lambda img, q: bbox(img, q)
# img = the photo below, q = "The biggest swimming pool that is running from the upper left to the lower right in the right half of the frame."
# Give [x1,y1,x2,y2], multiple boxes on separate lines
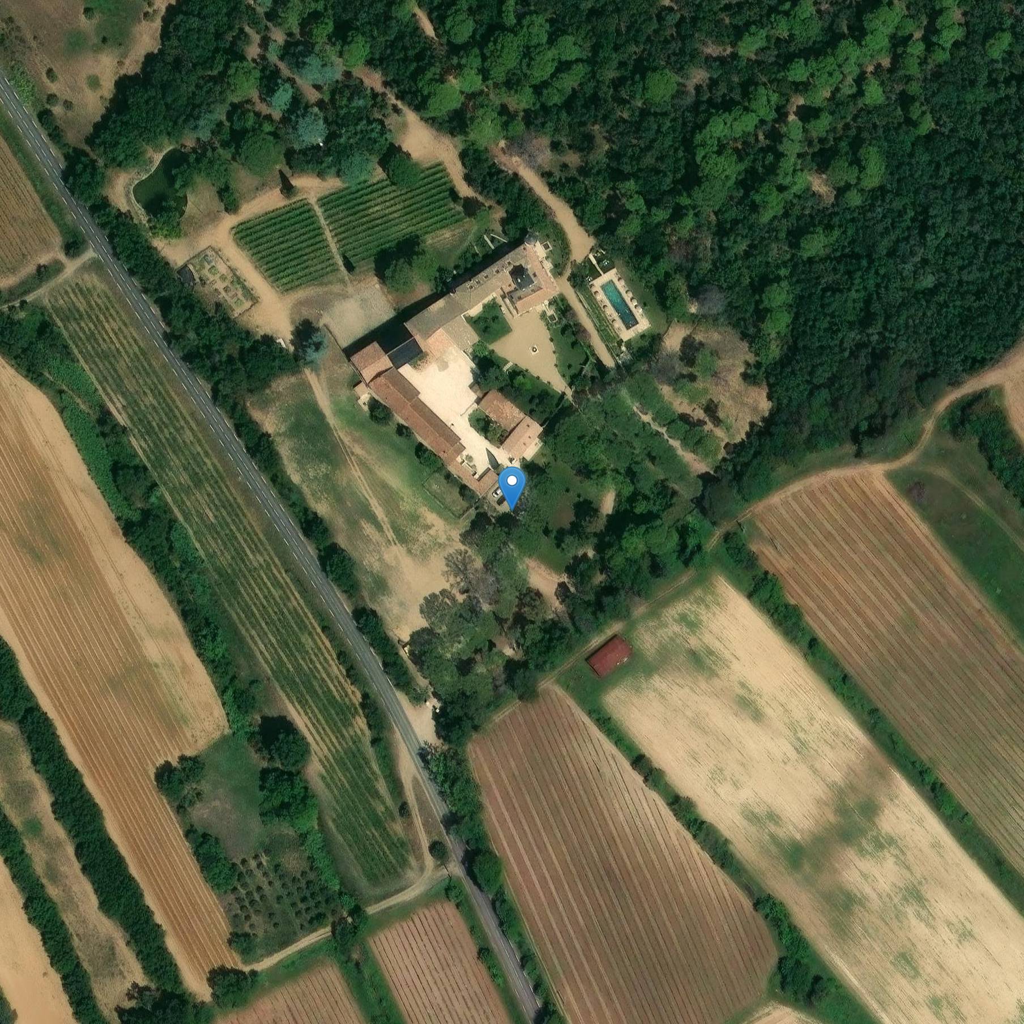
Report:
[589,269,651,339]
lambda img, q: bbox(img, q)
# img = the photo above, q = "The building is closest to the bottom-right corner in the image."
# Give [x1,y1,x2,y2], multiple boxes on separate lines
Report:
[589,636,632,677]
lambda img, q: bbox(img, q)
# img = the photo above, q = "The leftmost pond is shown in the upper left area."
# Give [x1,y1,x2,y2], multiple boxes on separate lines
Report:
[134,148,189,220]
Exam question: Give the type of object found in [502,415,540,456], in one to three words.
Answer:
building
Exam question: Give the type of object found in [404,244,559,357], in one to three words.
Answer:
house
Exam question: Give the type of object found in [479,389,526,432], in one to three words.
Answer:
barn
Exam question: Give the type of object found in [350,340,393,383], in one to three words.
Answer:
house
